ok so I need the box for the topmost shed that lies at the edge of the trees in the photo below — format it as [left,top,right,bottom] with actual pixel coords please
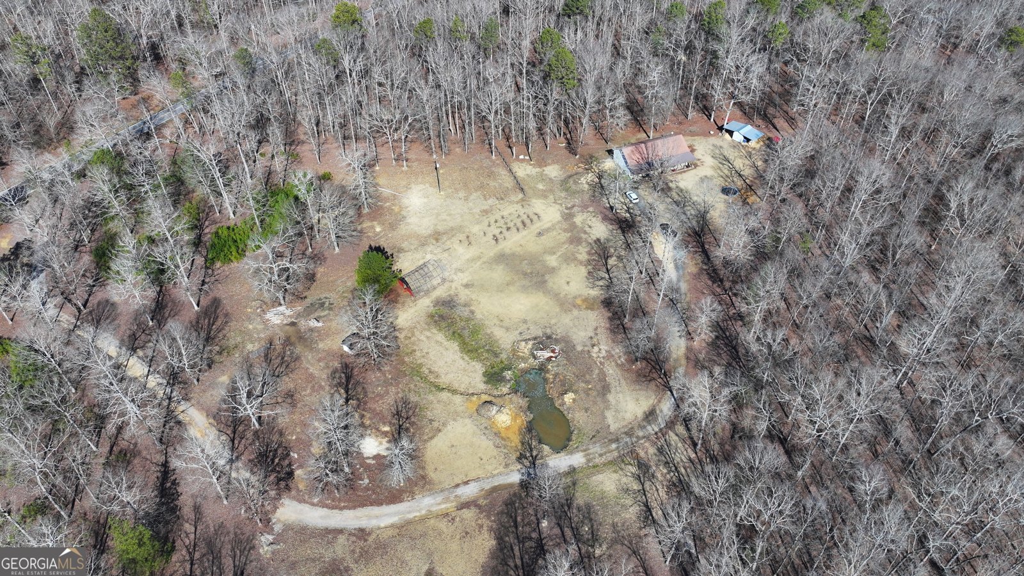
[721,120,762,146]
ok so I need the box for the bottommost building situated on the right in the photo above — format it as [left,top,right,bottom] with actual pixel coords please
[613,136,698,180]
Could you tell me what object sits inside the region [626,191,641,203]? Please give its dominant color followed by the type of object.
white vehicle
